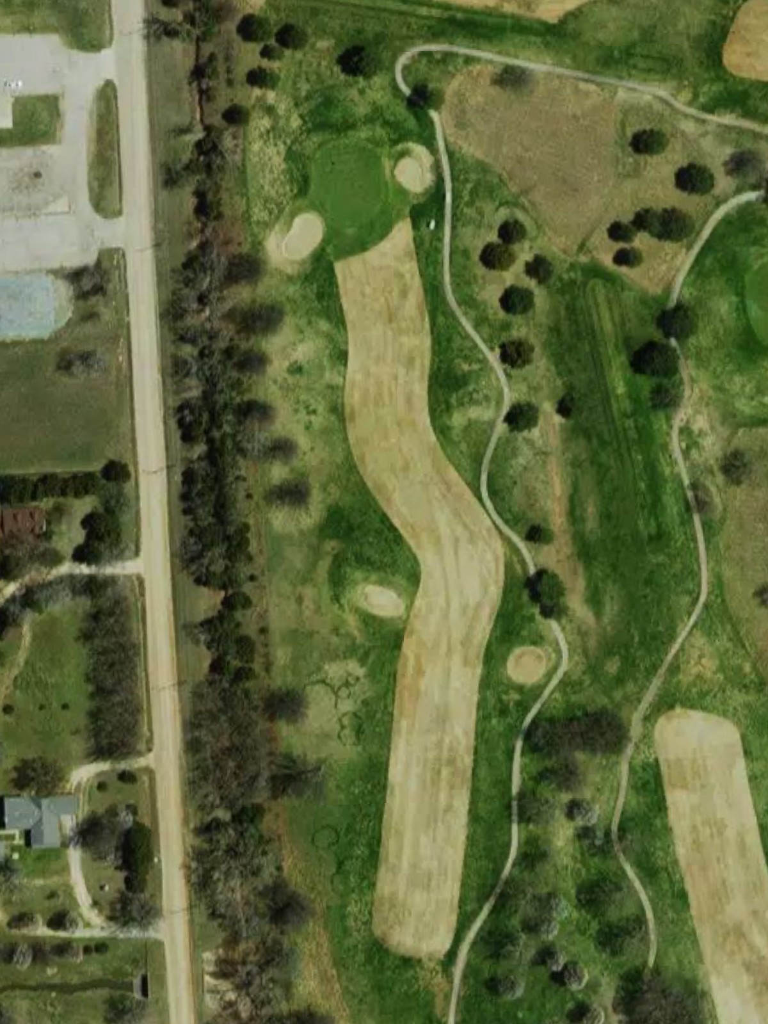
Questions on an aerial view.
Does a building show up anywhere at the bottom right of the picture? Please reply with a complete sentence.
No, I see no building at the bottom right of the picture.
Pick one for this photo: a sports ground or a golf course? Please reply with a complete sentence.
The area seen from above is a golf course.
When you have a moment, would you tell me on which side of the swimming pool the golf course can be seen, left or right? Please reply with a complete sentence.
From the viewer's perspective, the golf course falls to the right of the swimming pool.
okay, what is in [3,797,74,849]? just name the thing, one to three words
house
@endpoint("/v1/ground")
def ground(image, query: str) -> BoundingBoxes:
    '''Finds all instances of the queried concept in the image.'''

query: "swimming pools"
[0,272,74,341]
